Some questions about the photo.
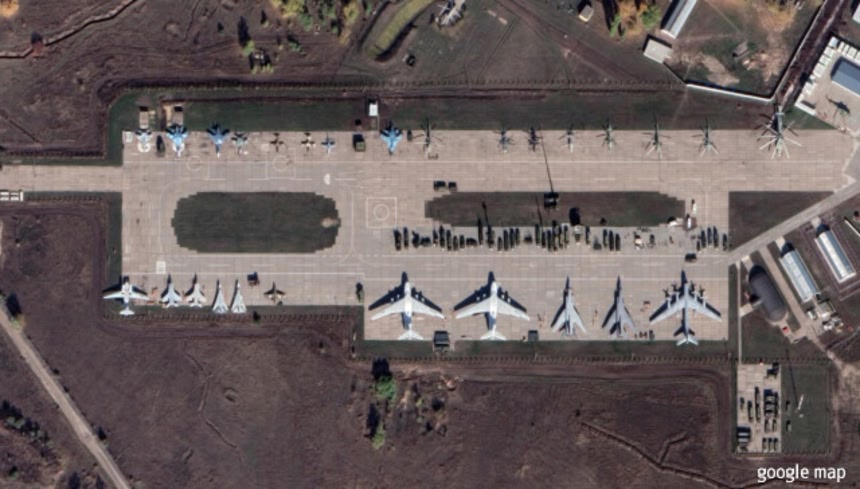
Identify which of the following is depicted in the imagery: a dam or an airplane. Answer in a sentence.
This aerial view contains an airplane.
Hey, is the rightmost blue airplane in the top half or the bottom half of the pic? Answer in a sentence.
The top half of the photo is where the rightmost blue airplane is.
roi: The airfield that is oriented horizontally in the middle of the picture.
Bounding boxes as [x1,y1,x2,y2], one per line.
[0,130,854,341]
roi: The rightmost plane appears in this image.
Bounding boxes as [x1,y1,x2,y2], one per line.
[650,281,722,342]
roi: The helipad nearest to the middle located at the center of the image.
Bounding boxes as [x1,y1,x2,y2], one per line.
[367,197,396,228]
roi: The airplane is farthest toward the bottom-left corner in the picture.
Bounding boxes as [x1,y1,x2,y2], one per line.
[103,276,149,311]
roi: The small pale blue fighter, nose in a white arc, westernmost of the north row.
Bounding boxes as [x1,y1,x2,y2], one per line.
[135,129,152,151]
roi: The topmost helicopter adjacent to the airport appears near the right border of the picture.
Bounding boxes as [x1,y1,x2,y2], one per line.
[826,100,852,122]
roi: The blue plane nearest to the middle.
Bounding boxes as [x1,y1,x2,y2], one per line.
[380,126,402,154]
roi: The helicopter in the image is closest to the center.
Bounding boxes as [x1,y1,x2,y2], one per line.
[414,123,441,154]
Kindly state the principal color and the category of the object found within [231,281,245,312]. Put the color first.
white airplane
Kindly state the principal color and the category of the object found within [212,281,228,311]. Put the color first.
white airplane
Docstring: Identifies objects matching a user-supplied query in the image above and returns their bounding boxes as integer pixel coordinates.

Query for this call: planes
[212,281,228,311]
[650,281,722,342]
[372,279,445,340]
[233,131,249,153]
[135,129,152,151]
[602,283,636,339]
[103,276,149,311]
[322,135,336,153]
[166,125,189,154]
[270,135,285,151]
[207,126,229,157]
[553,283,587,339]
[186,281,206,306]
[457,278,530,339]
[265,282,286,302]
[162,282,181,306]
[231,281,245,312]
[301,134,316,151]
[380,126,402,154]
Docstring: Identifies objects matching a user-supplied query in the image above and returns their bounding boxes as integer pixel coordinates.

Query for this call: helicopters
[826,100,852,122]
[598,122,622,149]
[758,109,802,155]
[695,121,723,151]
[414,123,441,154]
[560,124,583,150]
[523,127,545,148]
[642,124,672,152]
[493,126,517,150]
